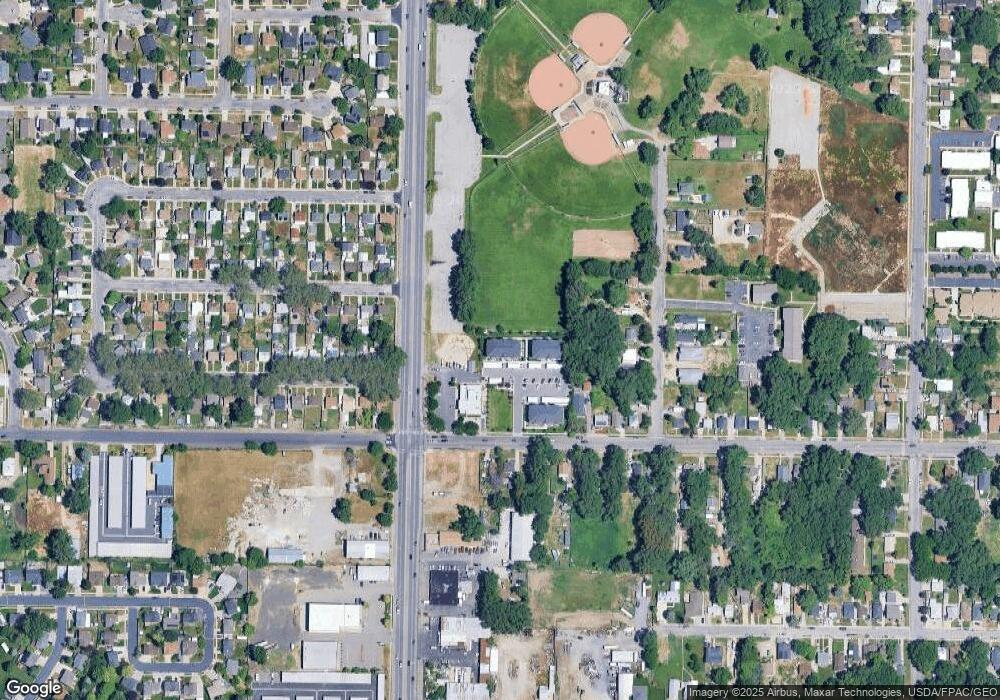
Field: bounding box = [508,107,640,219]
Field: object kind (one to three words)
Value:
baseball field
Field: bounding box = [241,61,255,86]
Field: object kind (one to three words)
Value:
house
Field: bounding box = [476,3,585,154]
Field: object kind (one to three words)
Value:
baseball field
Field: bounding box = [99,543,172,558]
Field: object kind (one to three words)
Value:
building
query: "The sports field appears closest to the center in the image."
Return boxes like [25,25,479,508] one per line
[470,163,632,333]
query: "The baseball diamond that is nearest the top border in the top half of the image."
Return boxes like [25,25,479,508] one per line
[512,0,650,69]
